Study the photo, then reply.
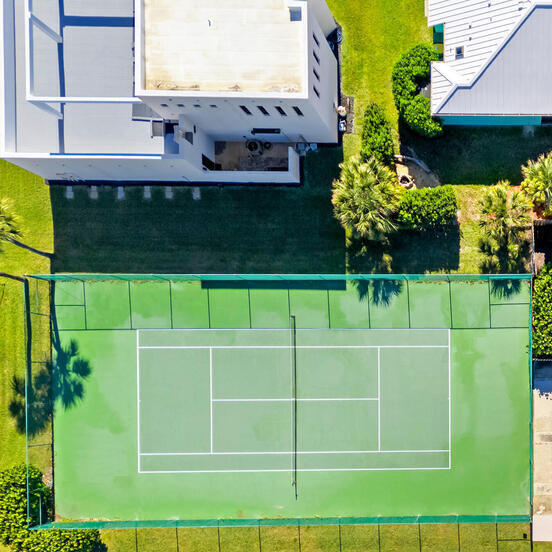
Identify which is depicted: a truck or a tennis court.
tennis court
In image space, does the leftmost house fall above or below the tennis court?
above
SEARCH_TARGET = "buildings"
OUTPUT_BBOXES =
[1,0,337,184]
[428,0,552,125]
